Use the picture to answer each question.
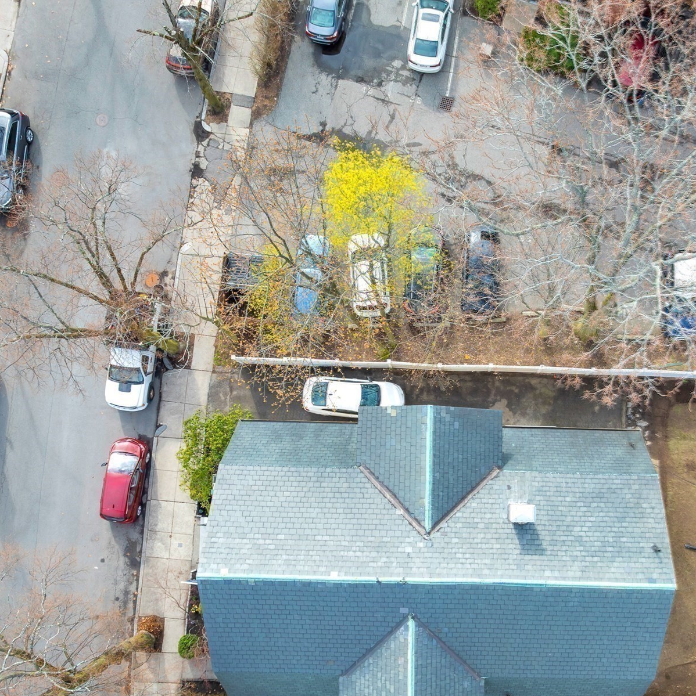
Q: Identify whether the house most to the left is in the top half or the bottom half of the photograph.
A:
bottom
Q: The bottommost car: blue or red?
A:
red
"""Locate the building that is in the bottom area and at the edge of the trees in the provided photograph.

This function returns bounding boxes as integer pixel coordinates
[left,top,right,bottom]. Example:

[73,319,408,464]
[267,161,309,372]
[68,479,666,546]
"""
[182,404,679,696]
